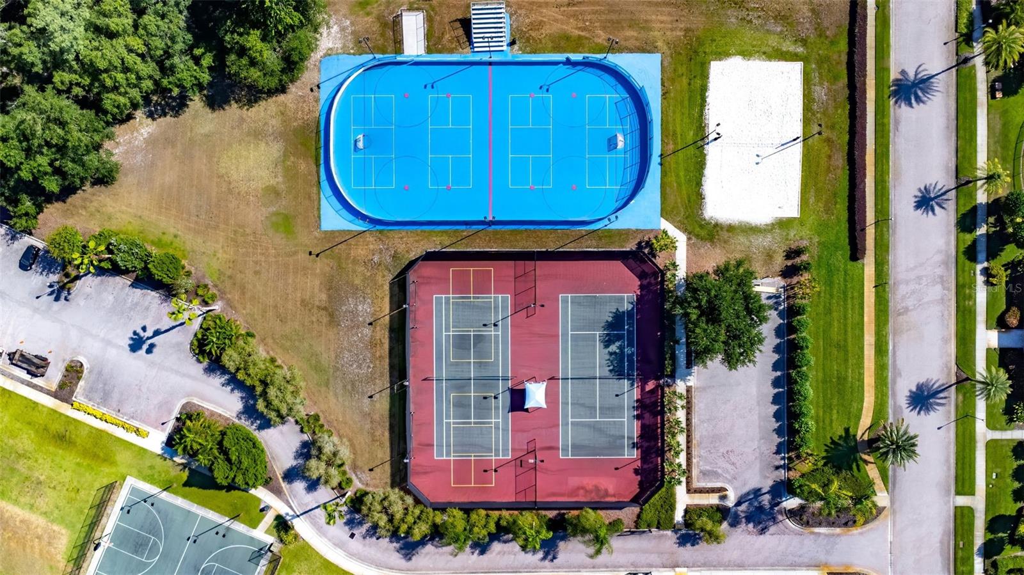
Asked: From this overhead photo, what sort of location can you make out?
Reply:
sports ground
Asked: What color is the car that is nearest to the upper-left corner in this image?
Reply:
black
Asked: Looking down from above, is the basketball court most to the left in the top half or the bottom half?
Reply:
bottom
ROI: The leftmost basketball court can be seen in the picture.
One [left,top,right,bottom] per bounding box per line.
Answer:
[86,476,277,575]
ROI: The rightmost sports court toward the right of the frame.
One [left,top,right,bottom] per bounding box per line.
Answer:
[703,56,803,223]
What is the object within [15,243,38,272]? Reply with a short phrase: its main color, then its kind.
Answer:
black car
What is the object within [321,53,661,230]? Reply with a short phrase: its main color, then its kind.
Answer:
blue sports court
